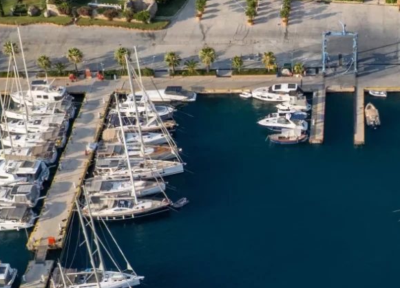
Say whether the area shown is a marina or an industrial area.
marina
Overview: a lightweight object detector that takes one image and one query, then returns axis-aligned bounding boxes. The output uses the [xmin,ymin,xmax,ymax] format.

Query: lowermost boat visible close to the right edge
[363,98,381,129]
